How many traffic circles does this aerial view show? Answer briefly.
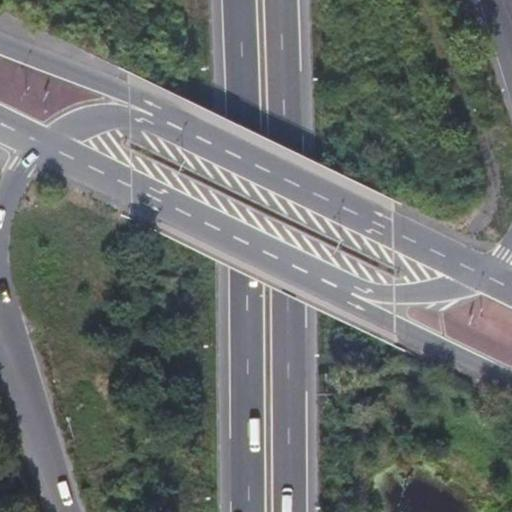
zero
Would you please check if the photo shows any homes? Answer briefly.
No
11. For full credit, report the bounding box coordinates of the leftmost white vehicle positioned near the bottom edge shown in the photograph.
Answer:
[58,480,72,506]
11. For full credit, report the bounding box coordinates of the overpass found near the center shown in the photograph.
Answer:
[116,66,408,352]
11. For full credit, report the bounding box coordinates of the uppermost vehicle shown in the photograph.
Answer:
[20,148,40,168]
